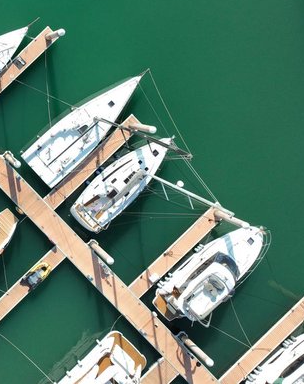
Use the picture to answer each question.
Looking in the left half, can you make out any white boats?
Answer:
Yes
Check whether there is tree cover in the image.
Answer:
No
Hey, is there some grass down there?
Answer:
No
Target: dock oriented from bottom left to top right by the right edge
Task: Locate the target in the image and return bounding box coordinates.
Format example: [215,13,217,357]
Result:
[216,293,304,384]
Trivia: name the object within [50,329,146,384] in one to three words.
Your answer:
boat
